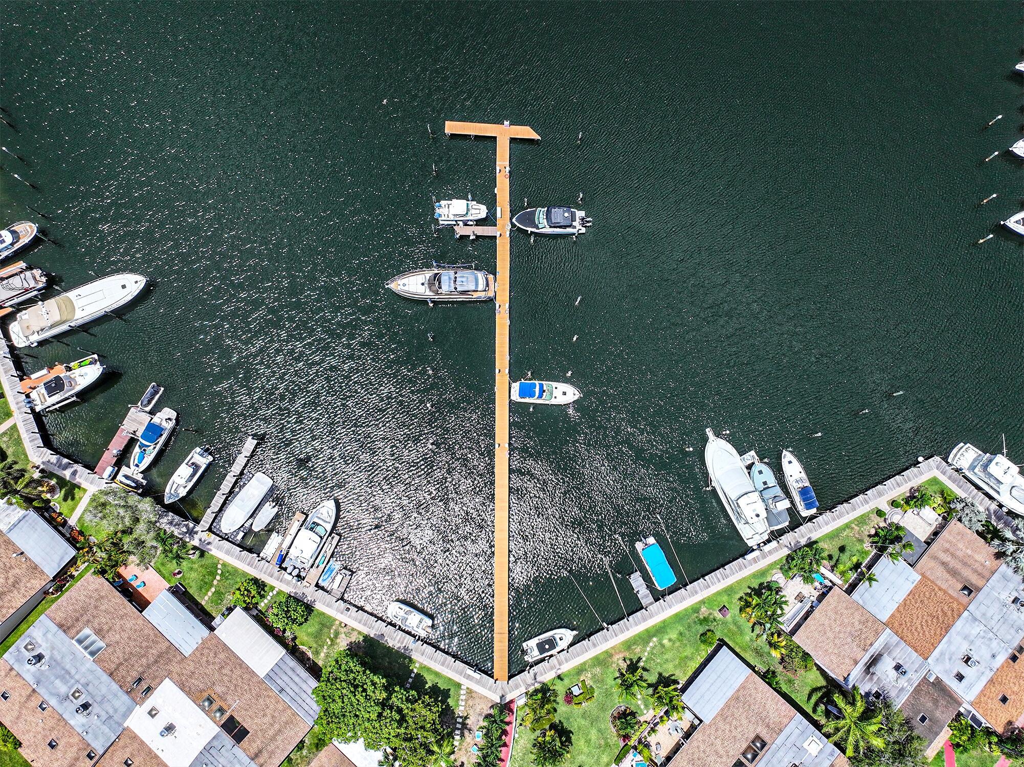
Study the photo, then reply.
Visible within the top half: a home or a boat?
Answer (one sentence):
Visible within the top half is a boat.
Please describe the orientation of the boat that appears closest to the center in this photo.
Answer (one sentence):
The boat that appears closest to the center is oriented horizontally.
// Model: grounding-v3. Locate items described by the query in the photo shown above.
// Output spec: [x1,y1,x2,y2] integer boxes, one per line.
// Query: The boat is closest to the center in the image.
[509,381,582,406]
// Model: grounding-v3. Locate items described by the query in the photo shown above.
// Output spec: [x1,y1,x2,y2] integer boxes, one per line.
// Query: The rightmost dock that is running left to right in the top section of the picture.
[453,225,496,240]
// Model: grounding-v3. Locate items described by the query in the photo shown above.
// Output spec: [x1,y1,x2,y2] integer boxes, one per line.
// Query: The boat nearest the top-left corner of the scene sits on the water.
[0,225,42,261]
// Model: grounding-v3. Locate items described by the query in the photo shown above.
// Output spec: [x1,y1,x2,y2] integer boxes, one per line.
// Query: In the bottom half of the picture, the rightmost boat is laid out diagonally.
[945,441,1024,510]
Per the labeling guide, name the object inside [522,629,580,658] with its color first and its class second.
white boat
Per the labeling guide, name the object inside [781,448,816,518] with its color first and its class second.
white boat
